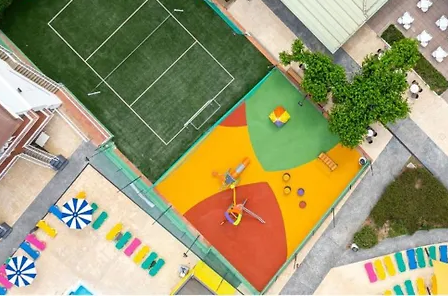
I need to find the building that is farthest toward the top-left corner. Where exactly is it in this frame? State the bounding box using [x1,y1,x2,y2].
[0,57,65,178]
